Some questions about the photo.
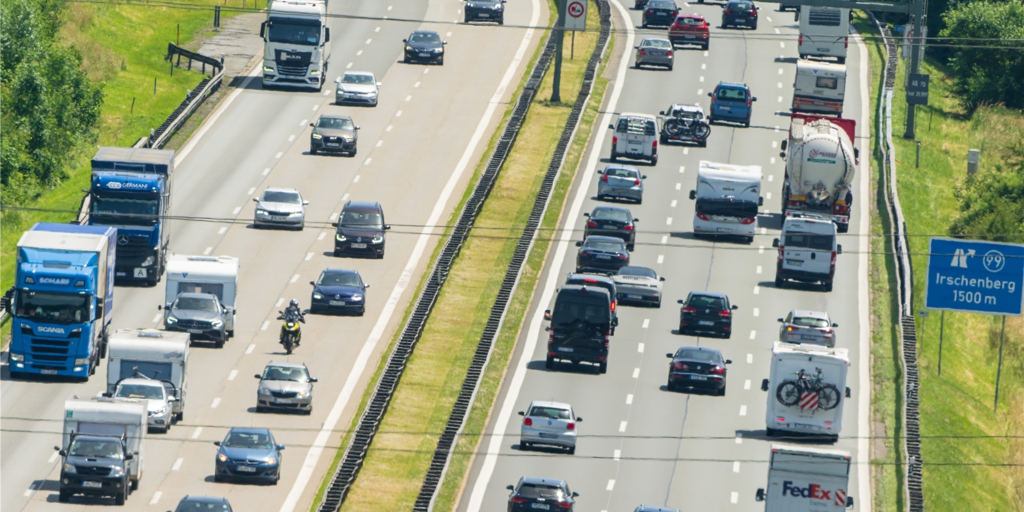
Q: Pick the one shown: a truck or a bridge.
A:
truck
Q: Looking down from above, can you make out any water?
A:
No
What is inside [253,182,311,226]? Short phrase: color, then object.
white car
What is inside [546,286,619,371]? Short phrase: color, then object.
black van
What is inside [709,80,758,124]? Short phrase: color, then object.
blue van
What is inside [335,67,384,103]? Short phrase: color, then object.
white car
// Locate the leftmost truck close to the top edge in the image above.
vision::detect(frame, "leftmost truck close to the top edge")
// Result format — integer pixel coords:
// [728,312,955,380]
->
[259,0,335,90]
